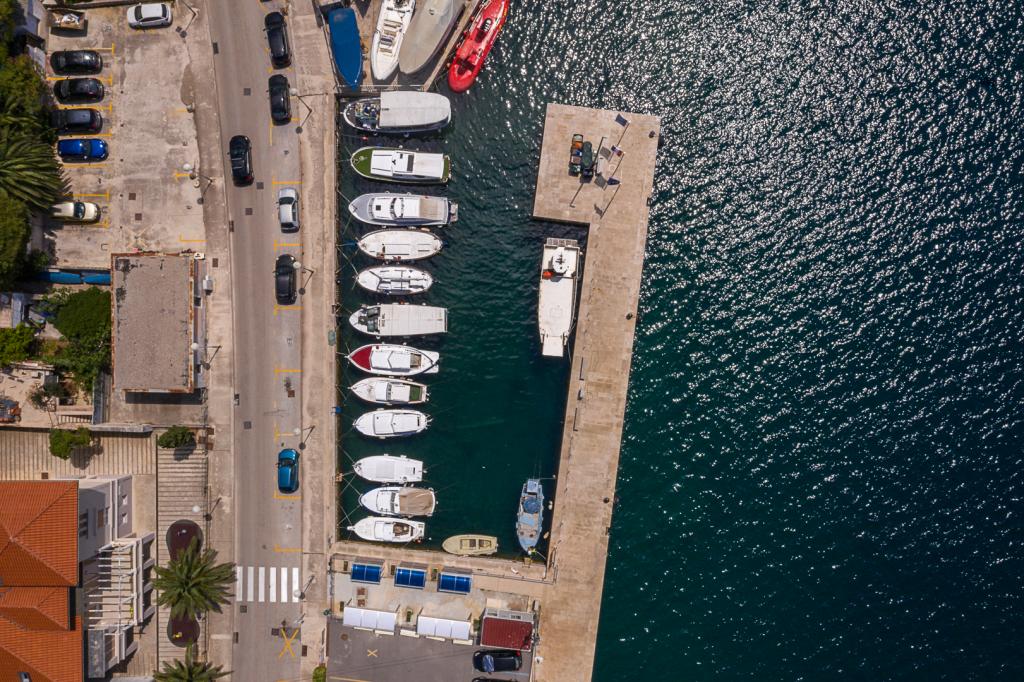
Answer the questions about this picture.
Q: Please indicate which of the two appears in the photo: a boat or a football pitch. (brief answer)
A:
boat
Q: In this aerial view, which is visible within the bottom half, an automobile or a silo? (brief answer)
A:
automobile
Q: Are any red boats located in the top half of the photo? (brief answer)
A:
Yes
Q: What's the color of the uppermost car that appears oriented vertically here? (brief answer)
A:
black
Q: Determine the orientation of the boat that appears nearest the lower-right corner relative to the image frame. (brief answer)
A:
vertically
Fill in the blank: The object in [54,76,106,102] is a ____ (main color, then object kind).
black car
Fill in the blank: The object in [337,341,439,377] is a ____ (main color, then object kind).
white boat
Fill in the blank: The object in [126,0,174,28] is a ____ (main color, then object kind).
white car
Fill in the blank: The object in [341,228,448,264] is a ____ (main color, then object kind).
white boat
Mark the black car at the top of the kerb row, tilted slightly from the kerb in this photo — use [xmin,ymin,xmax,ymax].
[263,12,292,70]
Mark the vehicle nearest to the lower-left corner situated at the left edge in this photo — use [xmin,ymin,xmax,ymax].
[0,398,25,422]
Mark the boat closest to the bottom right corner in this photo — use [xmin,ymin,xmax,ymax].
[516,461,548,557]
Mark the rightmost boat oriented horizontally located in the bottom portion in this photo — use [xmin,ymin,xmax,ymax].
[442,535,501,555]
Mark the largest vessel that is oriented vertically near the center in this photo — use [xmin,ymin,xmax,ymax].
[539,237,581,358]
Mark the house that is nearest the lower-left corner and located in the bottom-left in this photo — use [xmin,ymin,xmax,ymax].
[0,472,155,682]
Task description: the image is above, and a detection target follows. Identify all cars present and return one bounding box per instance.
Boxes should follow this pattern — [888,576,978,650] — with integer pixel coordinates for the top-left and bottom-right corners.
[472,648,522,677]
[50,107,104,134]
[49,199,101,223]
[275,449,300,493]
[225,135,254,187]
[263,12,292,70]
[272,255,297,305]
[50,47,104,75]
[54,76,106,102]
[265,74,292,125]
[57,136,110,161]
[126,0,174,28]
[274,187,300,233]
